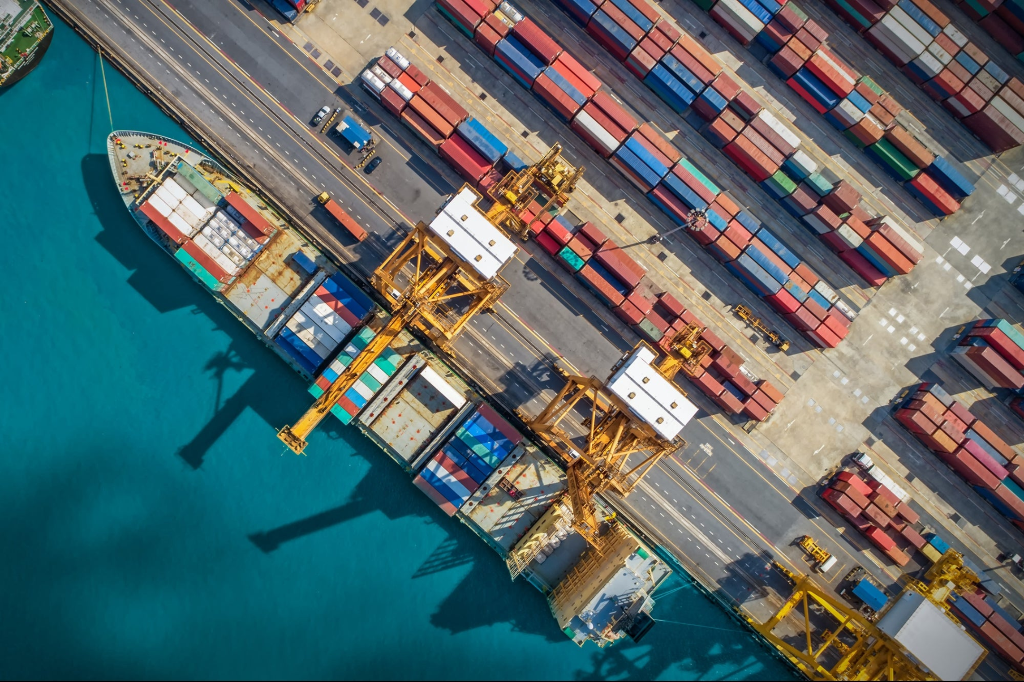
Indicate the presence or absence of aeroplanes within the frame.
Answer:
No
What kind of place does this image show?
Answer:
port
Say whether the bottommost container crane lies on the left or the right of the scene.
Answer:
right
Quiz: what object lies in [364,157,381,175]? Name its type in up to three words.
car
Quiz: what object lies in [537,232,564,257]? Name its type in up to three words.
shipping container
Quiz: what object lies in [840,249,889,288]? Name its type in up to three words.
shipping container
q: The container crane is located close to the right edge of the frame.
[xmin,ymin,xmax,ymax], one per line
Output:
[750,555,990,682]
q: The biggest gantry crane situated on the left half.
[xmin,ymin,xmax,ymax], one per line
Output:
[264,165,543,472]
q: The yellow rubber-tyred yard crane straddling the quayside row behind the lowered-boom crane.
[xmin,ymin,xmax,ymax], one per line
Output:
[504,137,591,243]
